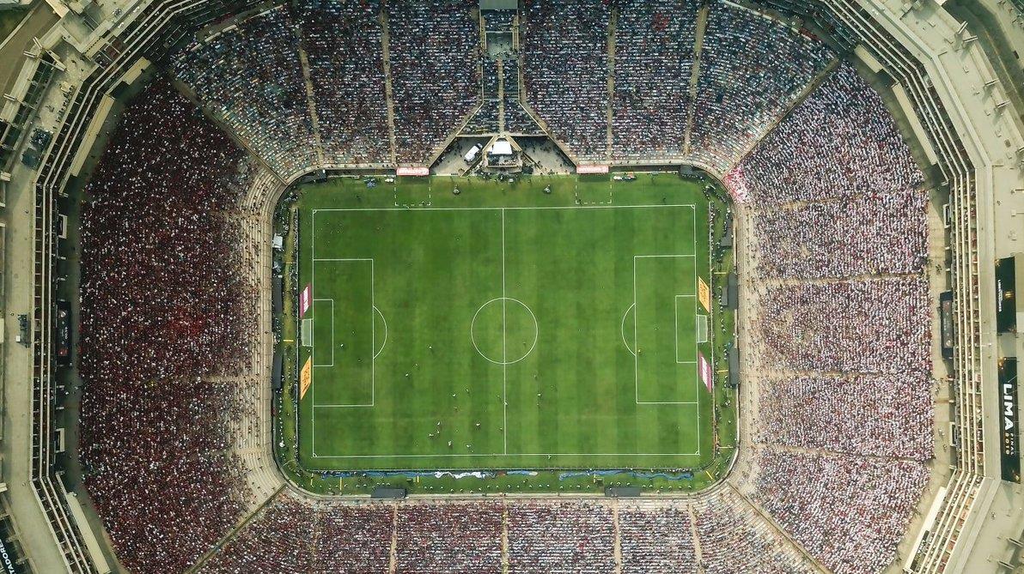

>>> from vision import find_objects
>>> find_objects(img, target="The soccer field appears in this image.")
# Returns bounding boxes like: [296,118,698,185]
[299,172,713,469]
